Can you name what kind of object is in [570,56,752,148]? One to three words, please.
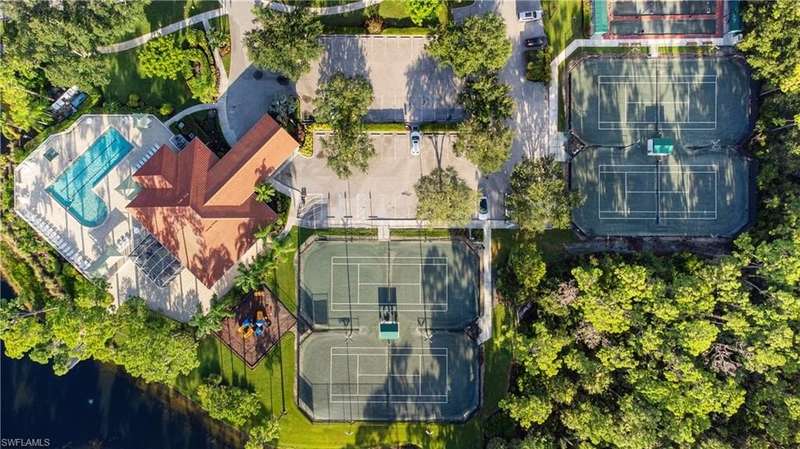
tennis court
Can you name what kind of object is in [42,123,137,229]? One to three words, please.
swimming pool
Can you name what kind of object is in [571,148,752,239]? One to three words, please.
tennis court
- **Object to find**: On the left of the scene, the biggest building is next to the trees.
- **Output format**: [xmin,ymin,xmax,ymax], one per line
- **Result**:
[125,113,300,287]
